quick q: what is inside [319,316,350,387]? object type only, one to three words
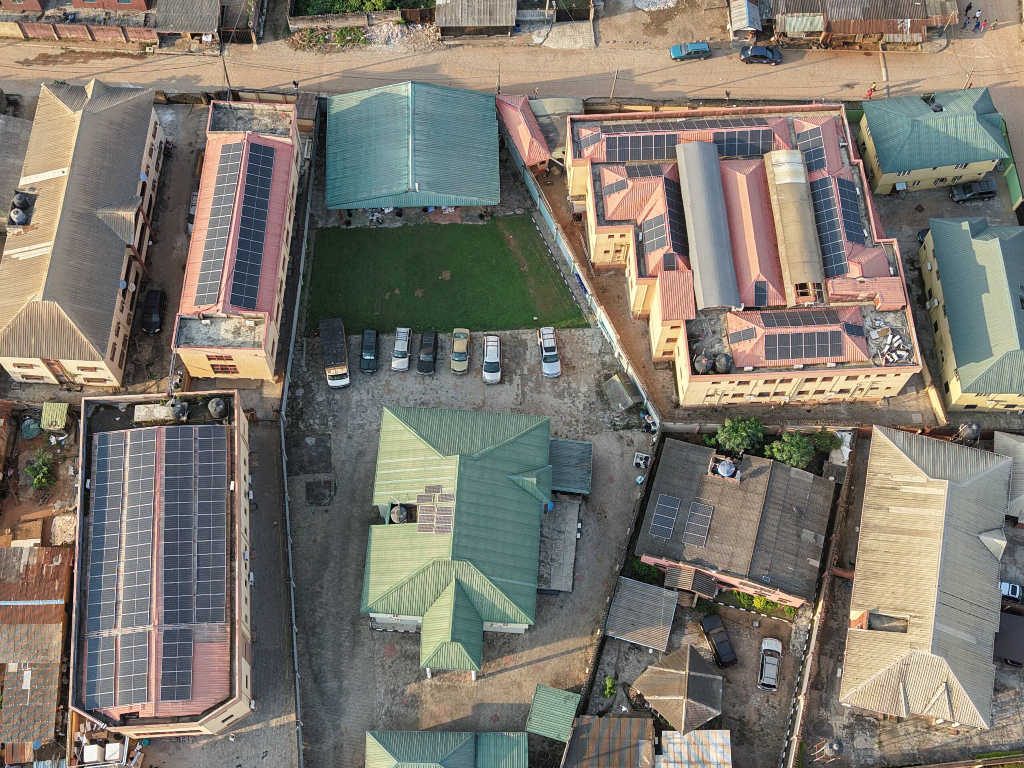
truck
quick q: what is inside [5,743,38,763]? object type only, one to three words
shed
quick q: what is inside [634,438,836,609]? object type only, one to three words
house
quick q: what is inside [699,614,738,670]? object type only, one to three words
car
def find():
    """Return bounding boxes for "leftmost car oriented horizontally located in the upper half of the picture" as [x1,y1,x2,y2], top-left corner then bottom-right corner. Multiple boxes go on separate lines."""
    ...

[669,41,712,62]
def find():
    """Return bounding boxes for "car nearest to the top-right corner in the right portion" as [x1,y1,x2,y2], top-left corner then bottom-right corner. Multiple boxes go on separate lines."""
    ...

[948,178,999,205]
